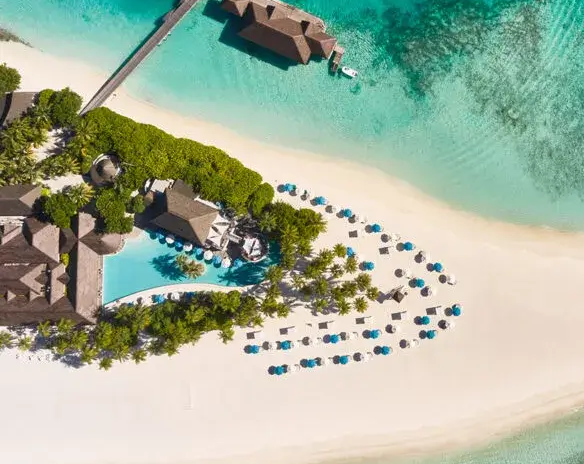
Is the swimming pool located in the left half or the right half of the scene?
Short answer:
left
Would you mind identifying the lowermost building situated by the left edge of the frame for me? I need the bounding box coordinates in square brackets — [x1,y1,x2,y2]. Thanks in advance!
[0,212,122,326]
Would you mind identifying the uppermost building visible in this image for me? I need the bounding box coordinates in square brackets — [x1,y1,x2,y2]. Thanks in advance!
[221,0,337,64]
